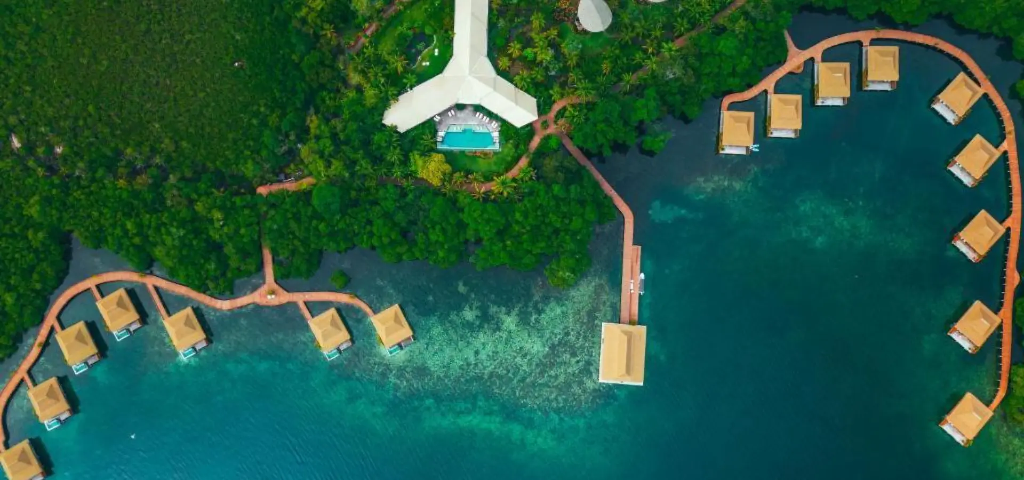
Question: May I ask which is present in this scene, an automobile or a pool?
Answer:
pool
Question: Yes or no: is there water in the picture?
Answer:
Yes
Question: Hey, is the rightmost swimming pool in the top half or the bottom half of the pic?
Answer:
top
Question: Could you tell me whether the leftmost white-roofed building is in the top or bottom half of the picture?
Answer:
top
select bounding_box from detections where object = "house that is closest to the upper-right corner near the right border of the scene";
[929,71,985,124]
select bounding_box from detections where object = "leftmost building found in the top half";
[383,0,538,132]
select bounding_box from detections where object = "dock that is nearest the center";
[563,137,633,323]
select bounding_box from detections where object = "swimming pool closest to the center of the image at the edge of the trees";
[437,124,499,149]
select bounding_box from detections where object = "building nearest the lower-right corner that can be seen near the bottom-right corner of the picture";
[937,392,993,442]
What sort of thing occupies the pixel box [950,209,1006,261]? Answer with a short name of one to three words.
house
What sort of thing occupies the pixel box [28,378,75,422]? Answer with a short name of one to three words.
house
